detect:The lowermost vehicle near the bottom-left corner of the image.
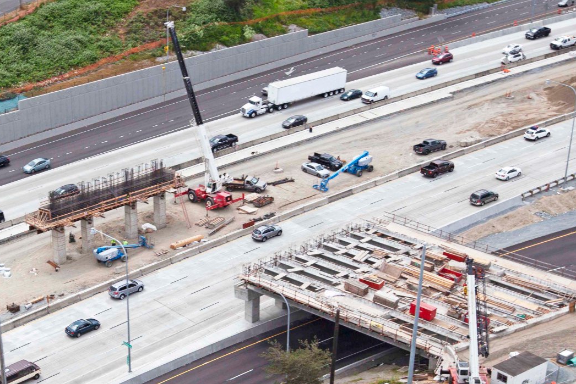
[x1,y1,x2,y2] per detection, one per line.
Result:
[0,359,43,384]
